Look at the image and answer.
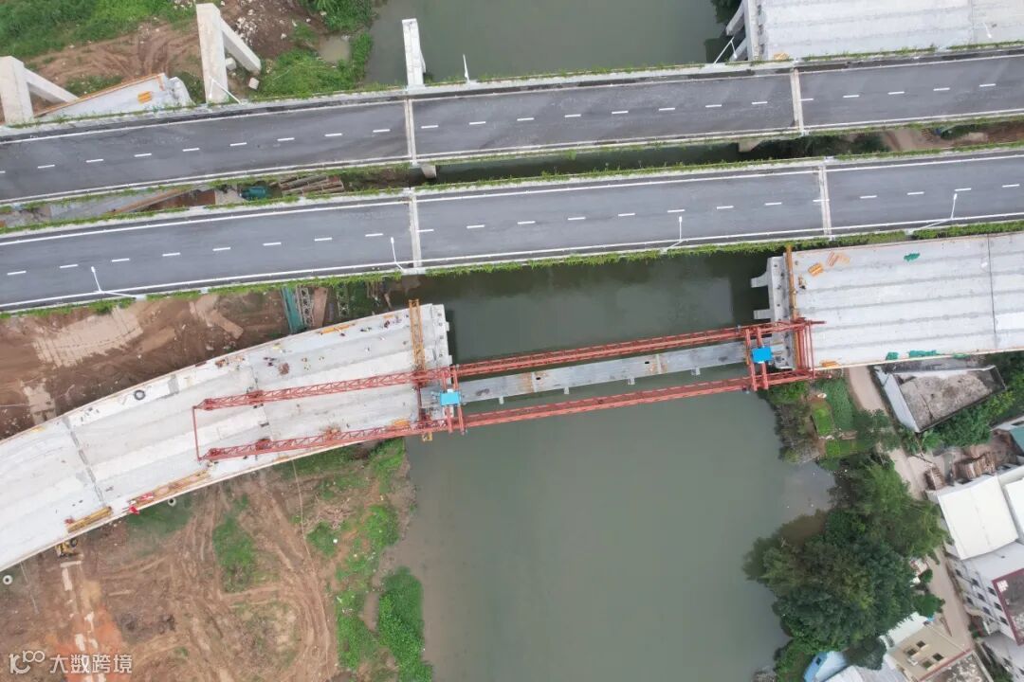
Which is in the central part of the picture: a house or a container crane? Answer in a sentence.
There is a container crane in the central part of the picture.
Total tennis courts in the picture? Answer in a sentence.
The count of tennis courts is 0.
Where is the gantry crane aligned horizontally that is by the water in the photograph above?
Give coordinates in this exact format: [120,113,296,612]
[192,315,831,463]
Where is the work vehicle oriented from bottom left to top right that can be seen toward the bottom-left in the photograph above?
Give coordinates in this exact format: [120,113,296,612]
[41,536,76,565]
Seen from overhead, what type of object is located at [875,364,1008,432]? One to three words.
house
